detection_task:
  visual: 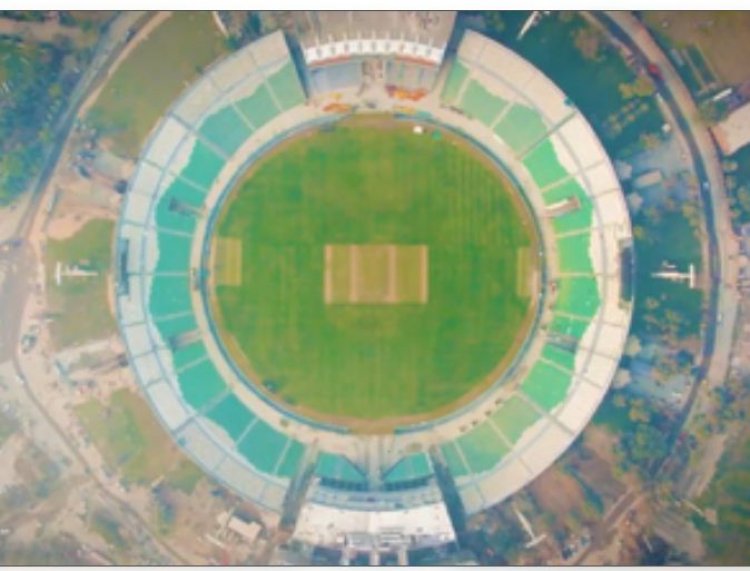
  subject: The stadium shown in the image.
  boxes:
[116,0,634,571]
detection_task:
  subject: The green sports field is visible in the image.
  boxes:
[207,118,541,430]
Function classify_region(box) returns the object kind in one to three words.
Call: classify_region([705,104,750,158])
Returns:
building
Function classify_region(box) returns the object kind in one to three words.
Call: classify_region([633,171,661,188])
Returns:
building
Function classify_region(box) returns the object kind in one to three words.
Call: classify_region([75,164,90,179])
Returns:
vehicle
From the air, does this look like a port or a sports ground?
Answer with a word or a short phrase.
sports ground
